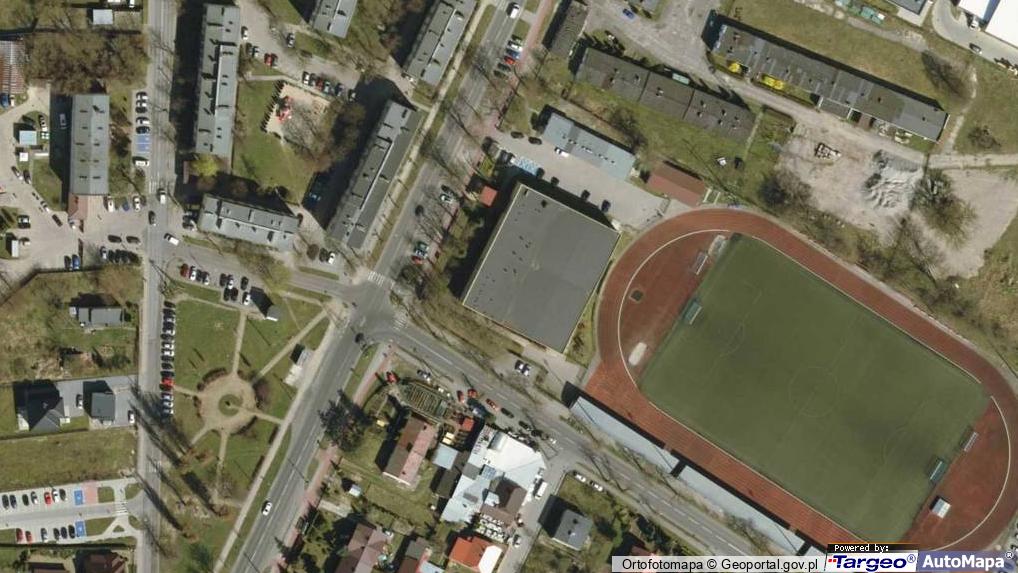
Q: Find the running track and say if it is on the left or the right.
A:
right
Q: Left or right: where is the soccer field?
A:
right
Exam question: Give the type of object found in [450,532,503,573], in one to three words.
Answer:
house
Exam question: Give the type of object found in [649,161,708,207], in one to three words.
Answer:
shed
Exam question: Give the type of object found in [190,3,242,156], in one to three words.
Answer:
building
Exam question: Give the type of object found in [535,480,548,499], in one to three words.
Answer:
vehicle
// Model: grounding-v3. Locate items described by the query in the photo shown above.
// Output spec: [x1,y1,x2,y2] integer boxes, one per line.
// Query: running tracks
[582,205,1018,573]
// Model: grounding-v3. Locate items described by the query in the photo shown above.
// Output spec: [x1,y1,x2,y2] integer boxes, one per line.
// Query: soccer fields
[640,236,989,546]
